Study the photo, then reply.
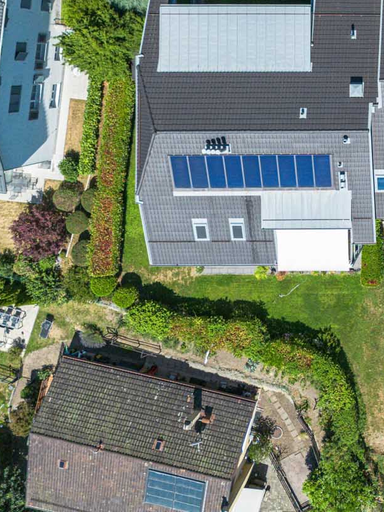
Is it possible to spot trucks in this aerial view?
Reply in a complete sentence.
No, there is no truck in the image.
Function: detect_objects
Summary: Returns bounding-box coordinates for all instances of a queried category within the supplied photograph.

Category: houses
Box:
[133,0,384,272]
[26,355,266,512]
[0,0,59,193]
